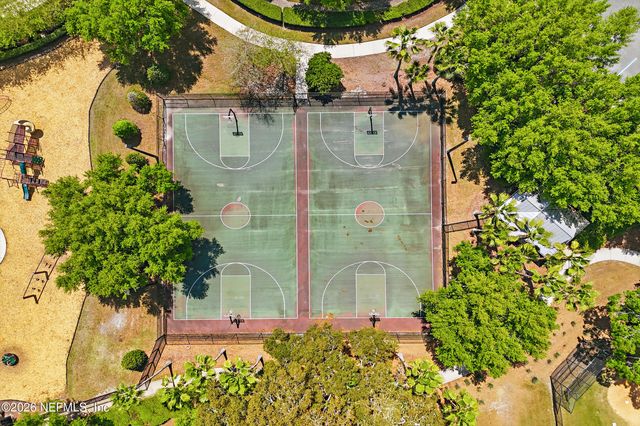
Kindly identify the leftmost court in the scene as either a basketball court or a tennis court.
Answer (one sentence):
Looking closely, the leftmost court is a basketball court.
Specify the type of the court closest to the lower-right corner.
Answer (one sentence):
I'd say the court closest to the lower-right corner is a basketball court.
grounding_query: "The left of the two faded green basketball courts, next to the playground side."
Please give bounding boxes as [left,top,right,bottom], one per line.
[173,112,298,320]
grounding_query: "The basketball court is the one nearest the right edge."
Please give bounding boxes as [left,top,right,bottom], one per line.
[308,112,434,319]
